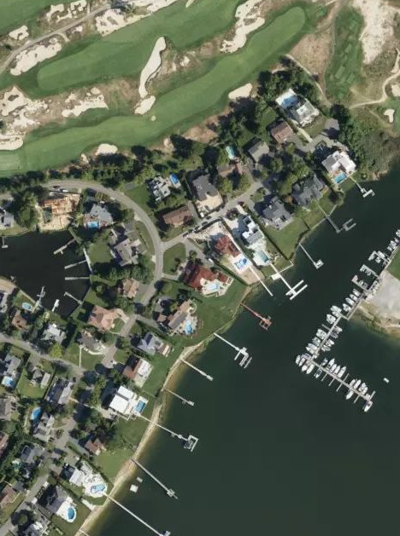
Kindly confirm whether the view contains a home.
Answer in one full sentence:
Yes, a home appears in the view.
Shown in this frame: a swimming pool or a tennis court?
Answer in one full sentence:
The one in the frame is a swimming pool.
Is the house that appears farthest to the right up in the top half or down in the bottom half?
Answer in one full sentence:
You can find the house that appears farthest to the right in the top half.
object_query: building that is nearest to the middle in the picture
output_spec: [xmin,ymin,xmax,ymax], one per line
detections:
[181,259,224,290]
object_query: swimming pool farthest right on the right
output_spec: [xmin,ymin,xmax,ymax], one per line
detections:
[330,169,350,187]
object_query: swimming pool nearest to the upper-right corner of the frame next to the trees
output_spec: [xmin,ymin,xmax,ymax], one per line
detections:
[281,90,301,108]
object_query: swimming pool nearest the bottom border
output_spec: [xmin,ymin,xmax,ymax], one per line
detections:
[59,496,77,523]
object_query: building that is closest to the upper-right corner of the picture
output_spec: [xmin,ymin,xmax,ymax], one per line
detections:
[290,102,319,129]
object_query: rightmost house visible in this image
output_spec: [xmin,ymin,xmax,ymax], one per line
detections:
[326,148,358,177]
